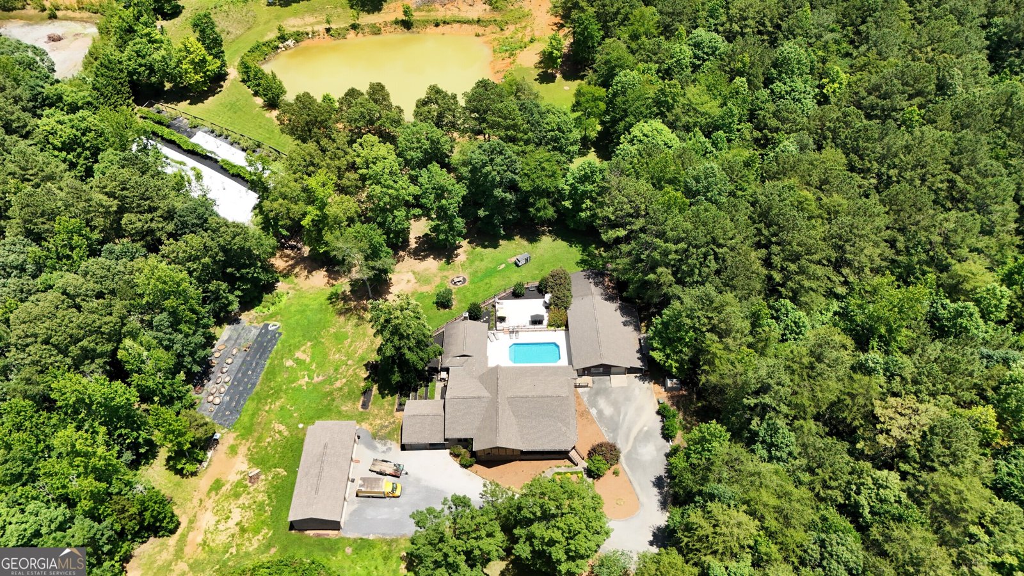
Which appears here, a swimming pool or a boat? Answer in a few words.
swimming pool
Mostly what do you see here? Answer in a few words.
trees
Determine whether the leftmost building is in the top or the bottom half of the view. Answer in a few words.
bottom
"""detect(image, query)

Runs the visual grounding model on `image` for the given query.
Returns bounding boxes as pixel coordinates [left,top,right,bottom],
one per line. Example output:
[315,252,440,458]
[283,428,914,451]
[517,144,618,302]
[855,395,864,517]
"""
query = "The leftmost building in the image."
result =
[287,416,358,527]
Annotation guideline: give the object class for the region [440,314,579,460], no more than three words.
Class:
house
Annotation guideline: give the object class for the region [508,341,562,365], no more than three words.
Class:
swimming pool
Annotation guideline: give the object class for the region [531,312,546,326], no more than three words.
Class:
gazebo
